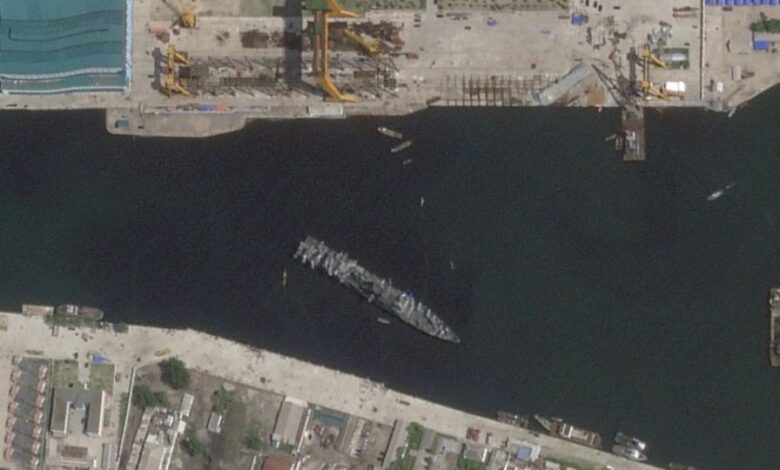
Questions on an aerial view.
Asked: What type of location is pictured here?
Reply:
port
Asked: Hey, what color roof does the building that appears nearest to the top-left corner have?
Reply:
blue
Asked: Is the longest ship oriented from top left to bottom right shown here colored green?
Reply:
No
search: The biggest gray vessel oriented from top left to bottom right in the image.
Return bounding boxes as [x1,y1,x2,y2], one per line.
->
[294,240,459,344]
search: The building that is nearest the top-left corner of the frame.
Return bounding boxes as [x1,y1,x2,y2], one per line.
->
[0,0,133,94]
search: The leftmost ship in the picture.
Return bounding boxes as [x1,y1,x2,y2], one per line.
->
[21,303,54,315]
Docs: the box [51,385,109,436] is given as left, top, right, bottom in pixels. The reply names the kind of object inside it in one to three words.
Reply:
building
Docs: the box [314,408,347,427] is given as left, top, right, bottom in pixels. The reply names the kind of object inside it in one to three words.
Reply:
shed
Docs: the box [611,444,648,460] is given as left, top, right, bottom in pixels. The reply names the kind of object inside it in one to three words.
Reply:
boat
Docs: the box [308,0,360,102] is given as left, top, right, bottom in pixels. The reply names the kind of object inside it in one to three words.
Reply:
container crane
